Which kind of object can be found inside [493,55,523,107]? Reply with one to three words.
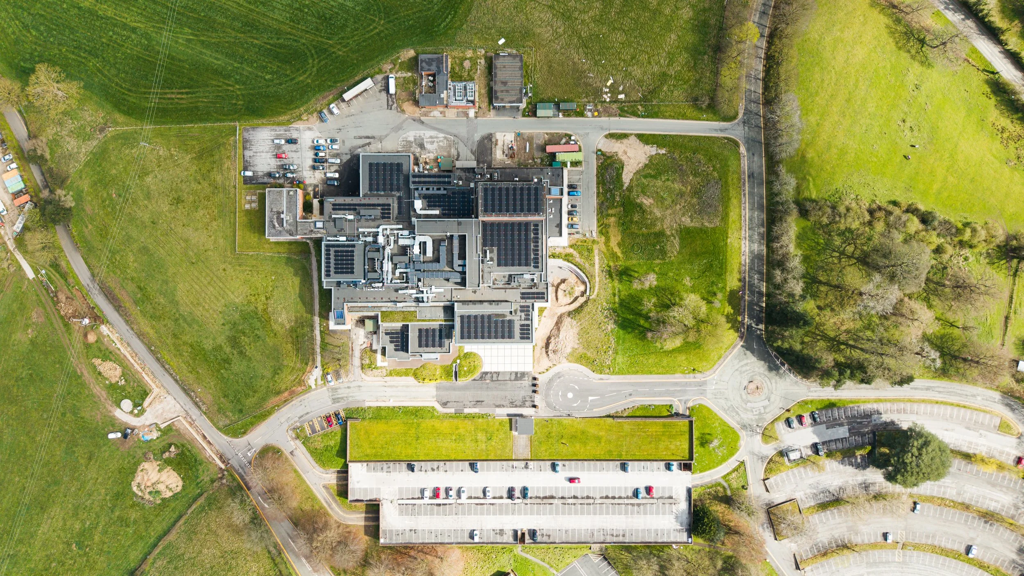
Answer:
building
